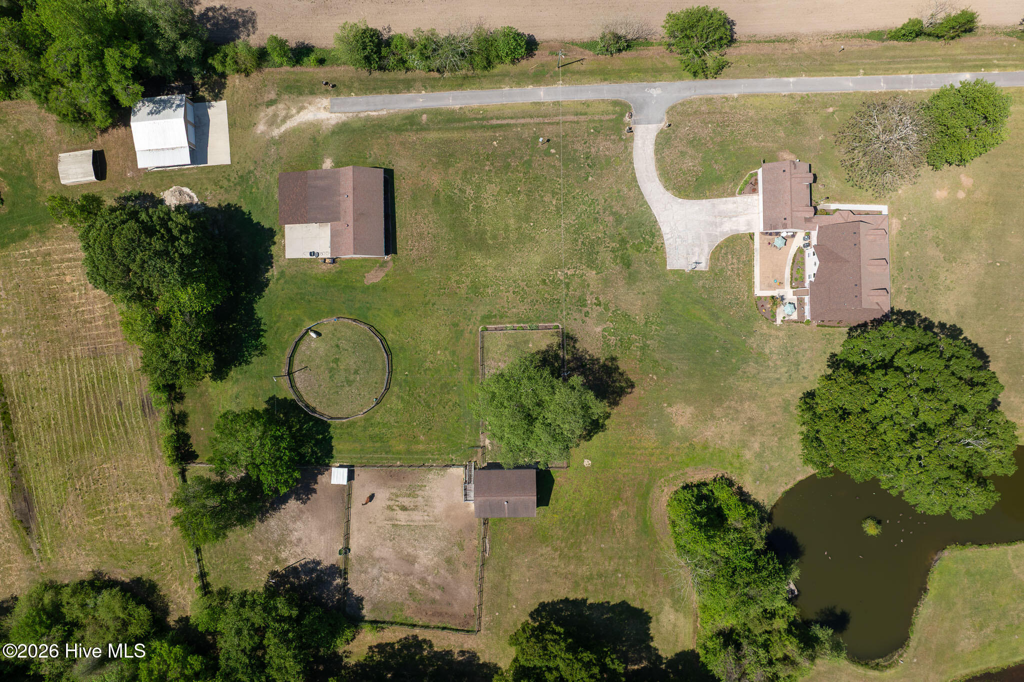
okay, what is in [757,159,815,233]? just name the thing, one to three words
building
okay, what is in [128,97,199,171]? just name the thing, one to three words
barn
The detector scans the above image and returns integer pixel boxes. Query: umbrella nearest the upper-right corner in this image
[774,235,788,249]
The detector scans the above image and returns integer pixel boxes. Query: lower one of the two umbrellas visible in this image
[782,303,797,316]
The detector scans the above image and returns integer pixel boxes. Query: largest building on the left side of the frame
[279,166,390,260]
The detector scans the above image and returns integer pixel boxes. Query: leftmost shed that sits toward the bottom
[332,465,351,484]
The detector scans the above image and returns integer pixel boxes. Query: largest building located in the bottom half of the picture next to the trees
[474,467,536,519]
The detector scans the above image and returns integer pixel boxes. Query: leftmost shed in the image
[58,149,101,186]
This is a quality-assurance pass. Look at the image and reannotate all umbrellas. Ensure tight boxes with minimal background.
[782,303,797,316]
[774,235,788,249]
